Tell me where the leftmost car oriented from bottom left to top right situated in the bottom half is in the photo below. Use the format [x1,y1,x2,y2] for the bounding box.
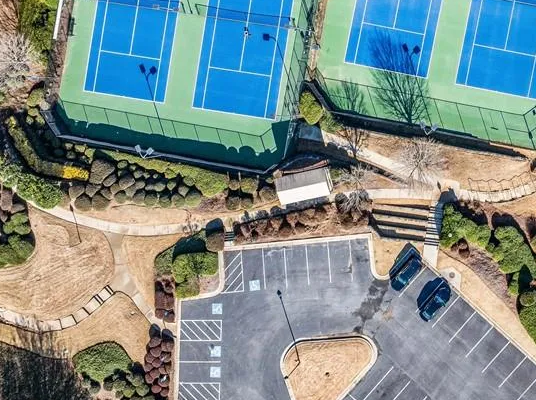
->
[389,253,425,291]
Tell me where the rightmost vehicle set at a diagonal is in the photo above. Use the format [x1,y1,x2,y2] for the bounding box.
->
[418,283,453,321]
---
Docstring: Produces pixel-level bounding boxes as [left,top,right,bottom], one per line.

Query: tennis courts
[171,0,315,171]
[311,0,457,129]
[432,0,536,148]
[57,0,194,154]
